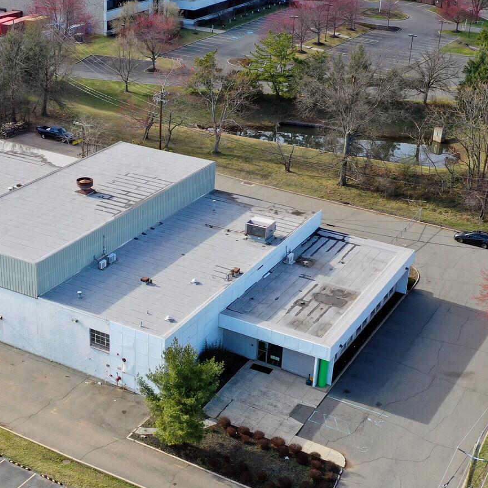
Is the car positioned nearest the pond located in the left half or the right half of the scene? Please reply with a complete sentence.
The car positioned nearest the pond sits on the right side.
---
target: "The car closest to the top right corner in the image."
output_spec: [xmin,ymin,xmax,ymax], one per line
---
[455,227,488,248]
